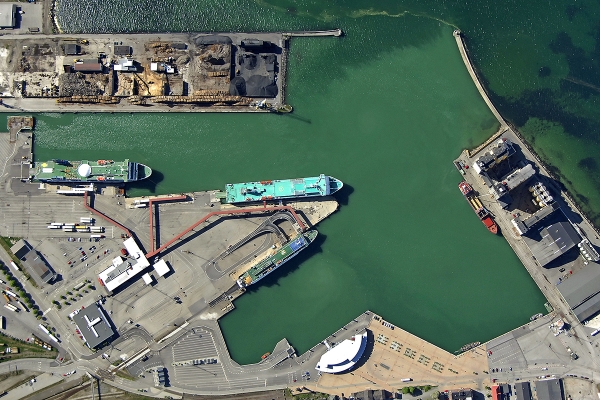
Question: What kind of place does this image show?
port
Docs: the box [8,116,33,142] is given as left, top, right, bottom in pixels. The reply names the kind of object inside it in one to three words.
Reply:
pier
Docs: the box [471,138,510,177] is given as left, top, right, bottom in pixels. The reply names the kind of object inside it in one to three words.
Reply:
building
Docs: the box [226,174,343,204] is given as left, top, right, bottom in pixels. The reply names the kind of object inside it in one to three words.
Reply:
ship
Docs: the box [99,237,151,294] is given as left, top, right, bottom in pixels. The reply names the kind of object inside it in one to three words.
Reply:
building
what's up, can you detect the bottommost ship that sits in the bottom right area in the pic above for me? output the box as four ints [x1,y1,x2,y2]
[460,339,482,353]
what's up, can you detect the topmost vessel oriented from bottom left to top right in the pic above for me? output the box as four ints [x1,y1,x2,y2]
[238,229,319,289]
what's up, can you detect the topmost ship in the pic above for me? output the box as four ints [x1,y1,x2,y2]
[35,159,152,183]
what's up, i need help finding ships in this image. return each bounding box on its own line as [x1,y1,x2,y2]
[238,229,319,289]
[460,339,482,353]
[455,180,499,234]
[226,174,343,204]
[35,159,152,183]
